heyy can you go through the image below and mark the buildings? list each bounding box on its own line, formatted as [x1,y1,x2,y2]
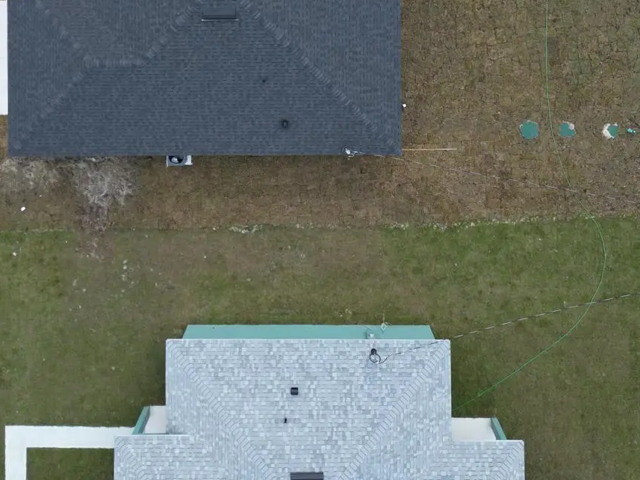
[7,0,401,160]
[113,309,524,480]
